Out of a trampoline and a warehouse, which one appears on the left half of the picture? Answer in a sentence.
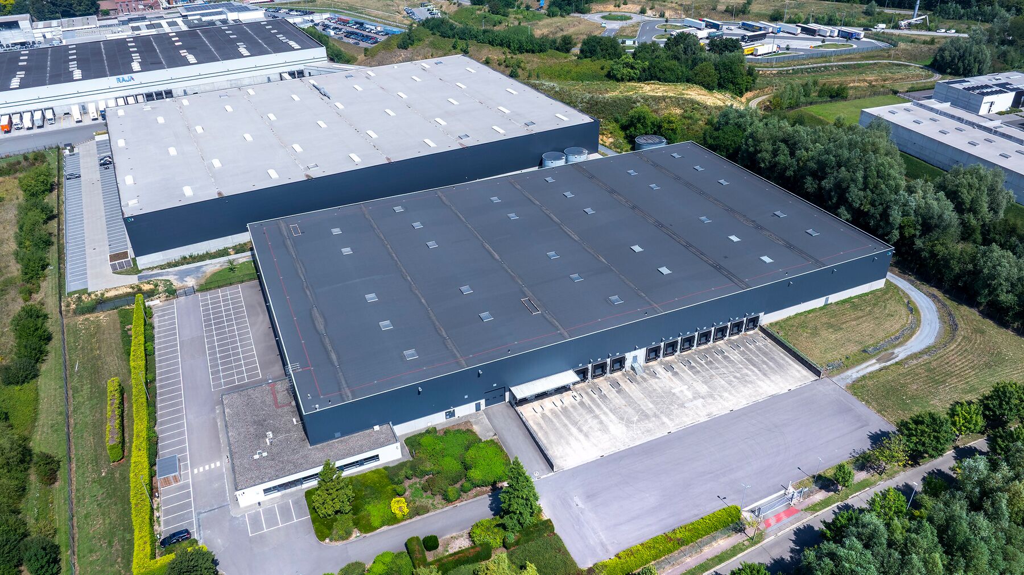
The one visible on the left half of the picture is a warehouse.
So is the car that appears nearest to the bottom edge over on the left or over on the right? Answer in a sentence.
The car that appears nearest to the bottom edge is on the left side of the image.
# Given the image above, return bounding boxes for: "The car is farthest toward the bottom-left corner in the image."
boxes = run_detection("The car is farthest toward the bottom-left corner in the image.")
[159,525,191,545]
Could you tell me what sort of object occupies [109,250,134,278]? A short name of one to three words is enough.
shed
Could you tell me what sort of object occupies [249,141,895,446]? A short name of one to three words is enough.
warehouse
